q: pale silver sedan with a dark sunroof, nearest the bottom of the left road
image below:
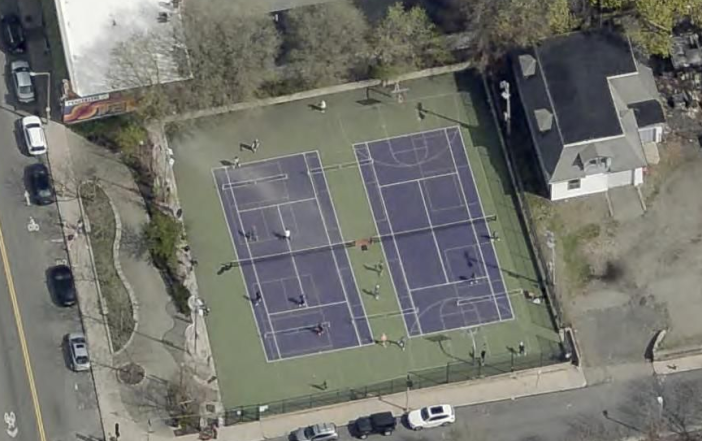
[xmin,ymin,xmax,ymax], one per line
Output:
[66,333,90,374]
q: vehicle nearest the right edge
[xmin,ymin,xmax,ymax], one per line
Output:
[407,405,457,432]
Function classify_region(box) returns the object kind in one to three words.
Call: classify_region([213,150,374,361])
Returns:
tennis court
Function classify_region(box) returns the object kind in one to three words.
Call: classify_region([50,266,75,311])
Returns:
car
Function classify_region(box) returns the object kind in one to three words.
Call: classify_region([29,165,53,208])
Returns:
car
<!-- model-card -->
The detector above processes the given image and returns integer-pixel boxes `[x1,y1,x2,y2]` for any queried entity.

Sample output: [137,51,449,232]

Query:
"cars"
[66,333,90,374]
[407,405,457,432]
[352,412,400,440]
[29,165,53,208]
[50,266,75,311]
[12,63,36,106]
[23,117,47,158]
[293,421,342,441]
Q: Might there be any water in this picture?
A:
No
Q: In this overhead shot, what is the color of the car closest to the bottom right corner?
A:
white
